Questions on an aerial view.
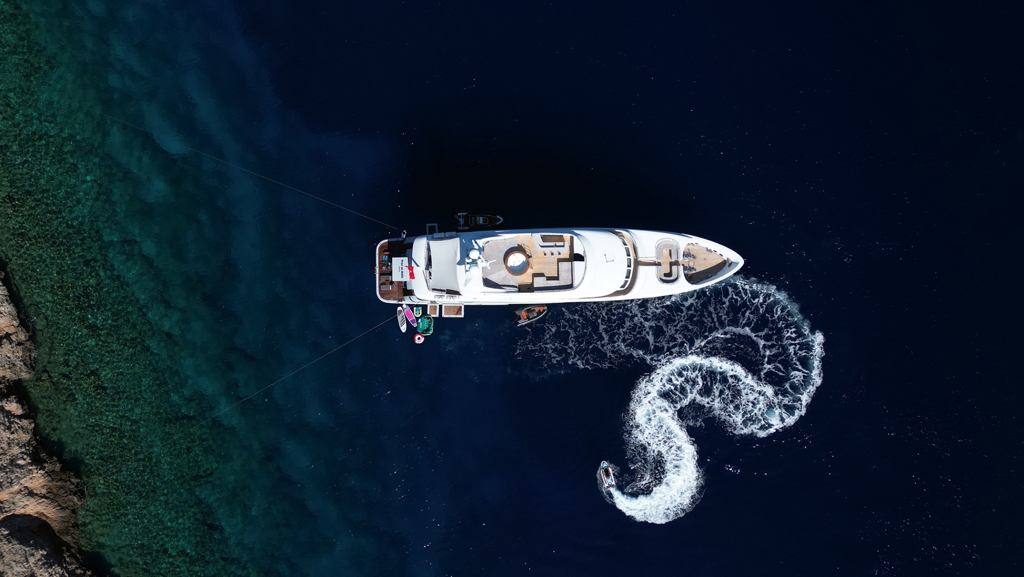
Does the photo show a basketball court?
No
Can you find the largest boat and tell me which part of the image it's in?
center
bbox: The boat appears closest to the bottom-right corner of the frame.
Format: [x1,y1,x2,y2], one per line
[601,461,615,489]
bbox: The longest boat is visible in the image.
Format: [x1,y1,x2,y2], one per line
[371,224,744,317]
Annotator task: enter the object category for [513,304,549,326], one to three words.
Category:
boat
